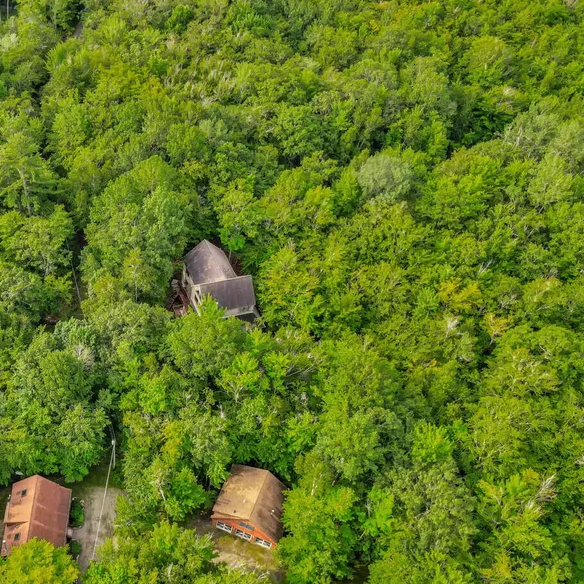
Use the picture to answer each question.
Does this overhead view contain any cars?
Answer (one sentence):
No, I can't see a single car in this photo.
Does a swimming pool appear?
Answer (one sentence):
No, the frame has no swimming pool in it.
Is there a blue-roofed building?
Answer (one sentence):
No, this view has no blue-roofed building in it.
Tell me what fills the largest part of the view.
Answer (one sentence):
The bulk of the photo consists of trees.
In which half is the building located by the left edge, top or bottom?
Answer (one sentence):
You can find the building located by the left edge in the bottom half.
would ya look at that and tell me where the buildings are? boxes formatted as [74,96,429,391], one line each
[0,477,73,557]
[211,465,288,544]
[168,240,256,334]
